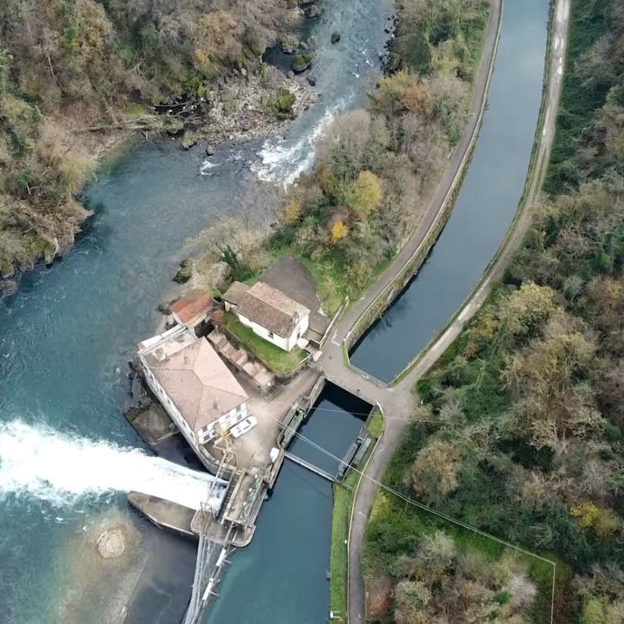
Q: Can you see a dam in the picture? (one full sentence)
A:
Yes, a dam appears in the view.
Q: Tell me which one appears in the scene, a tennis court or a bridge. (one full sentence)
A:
Visible in the photo is a bridge.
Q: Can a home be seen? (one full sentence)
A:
Yes, I can see a home in this picture.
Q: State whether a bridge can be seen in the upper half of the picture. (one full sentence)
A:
No, the scene shows no bridge in the upper half of the picture.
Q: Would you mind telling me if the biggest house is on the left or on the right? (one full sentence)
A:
It is on the left.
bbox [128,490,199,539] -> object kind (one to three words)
pier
